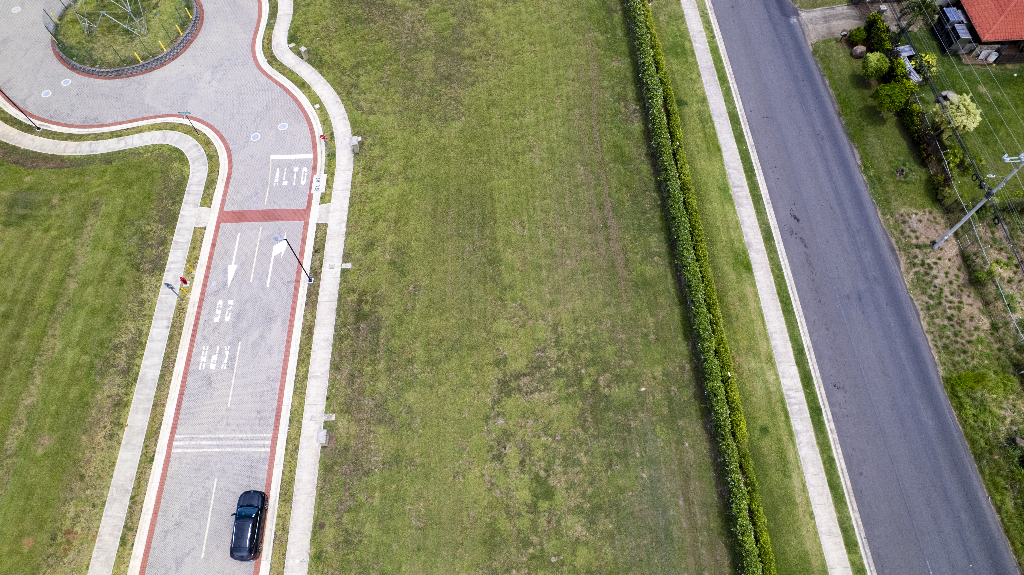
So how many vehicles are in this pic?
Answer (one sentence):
Only 1 vehicle is visible.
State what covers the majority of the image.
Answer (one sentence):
What you mostly see from above here is grass.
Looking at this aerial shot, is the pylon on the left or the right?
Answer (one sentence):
The pylon appears in the left half of the scene.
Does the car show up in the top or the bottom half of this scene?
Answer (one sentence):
You can find the car in the bottom half.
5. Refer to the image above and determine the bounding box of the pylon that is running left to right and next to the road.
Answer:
[66,0,149,37]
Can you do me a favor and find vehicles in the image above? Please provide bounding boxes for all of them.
[228,491,269,565]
